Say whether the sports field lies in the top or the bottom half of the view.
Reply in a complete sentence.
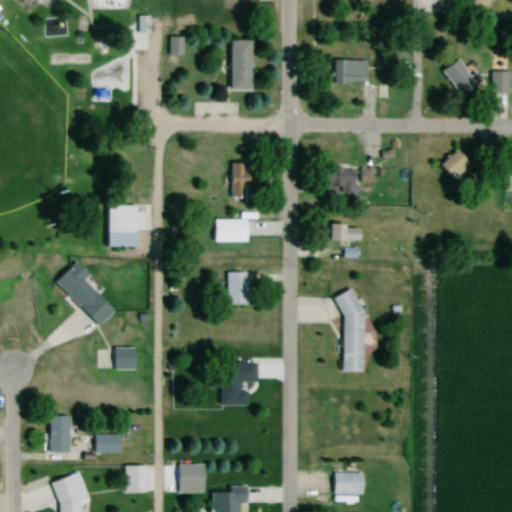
It is in the top half that the sports field appears.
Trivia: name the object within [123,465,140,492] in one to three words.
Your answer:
building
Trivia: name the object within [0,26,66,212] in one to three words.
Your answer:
sports field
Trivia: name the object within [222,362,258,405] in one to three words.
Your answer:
house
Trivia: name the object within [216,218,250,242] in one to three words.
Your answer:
barn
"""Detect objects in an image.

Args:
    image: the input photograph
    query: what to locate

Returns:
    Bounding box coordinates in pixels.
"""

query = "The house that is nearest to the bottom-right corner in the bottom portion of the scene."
[335,472,366,505]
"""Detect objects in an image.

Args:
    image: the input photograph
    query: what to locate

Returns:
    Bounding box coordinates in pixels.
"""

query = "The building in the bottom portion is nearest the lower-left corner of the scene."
[50,474,88,512]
